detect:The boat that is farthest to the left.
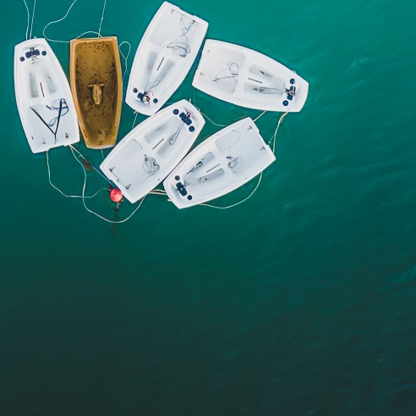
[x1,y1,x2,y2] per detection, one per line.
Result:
[14,39,79,151]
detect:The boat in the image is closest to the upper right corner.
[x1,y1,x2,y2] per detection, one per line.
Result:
[192,39,307,113]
